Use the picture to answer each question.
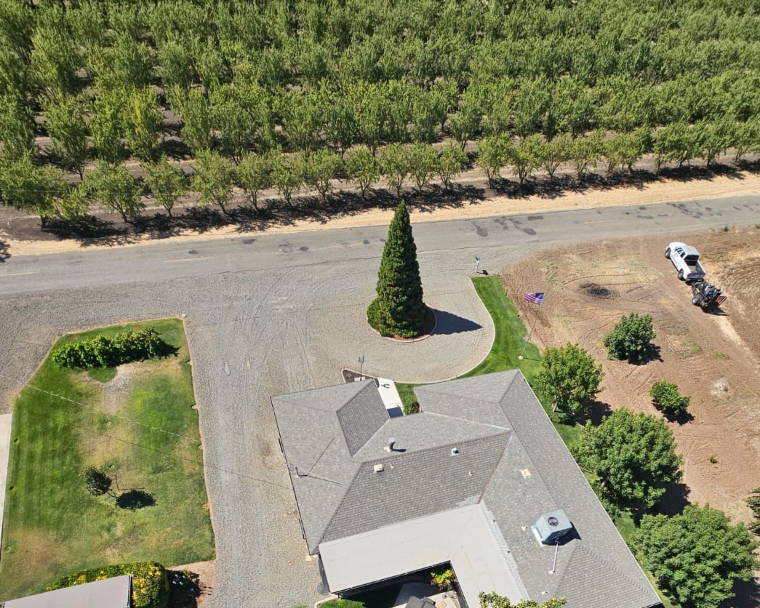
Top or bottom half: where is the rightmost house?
bottom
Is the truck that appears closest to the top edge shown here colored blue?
No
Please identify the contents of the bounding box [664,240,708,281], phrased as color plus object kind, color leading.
white truck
